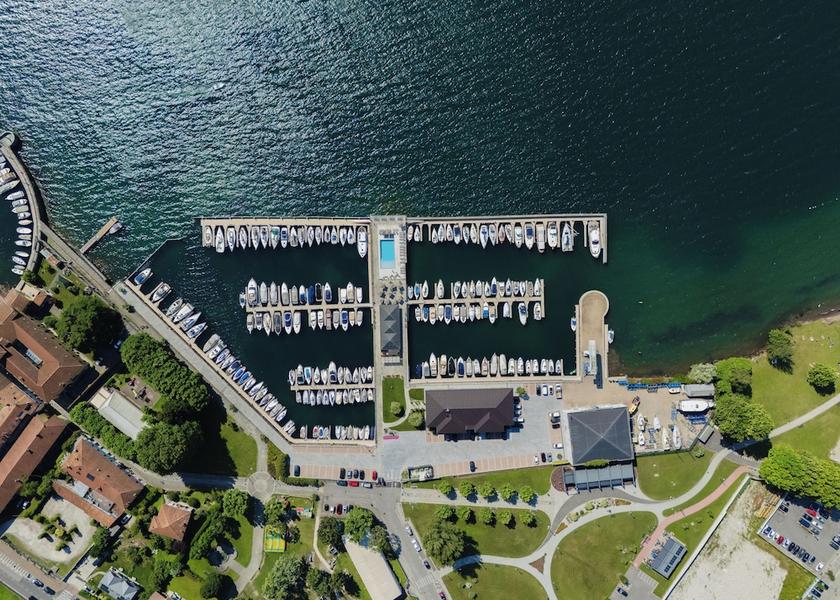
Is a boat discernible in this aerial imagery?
Yes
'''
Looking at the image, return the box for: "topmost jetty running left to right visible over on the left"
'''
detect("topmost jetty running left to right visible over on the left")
[199,216,371,246]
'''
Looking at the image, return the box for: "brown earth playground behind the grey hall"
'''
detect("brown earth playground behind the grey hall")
[118,374,160,407]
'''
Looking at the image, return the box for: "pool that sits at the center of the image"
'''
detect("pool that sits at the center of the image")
[378,237,395,269]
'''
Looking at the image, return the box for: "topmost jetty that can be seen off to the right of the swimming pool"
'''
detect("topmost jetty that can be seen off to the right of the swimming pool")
[407,213,608,264]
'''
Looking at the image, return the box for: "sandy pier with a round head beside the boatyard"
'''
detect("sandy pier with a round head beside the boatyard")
[575,290,609,381]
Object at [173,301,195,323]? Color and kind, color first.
white boat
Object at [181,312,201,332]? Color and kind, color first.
white boat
